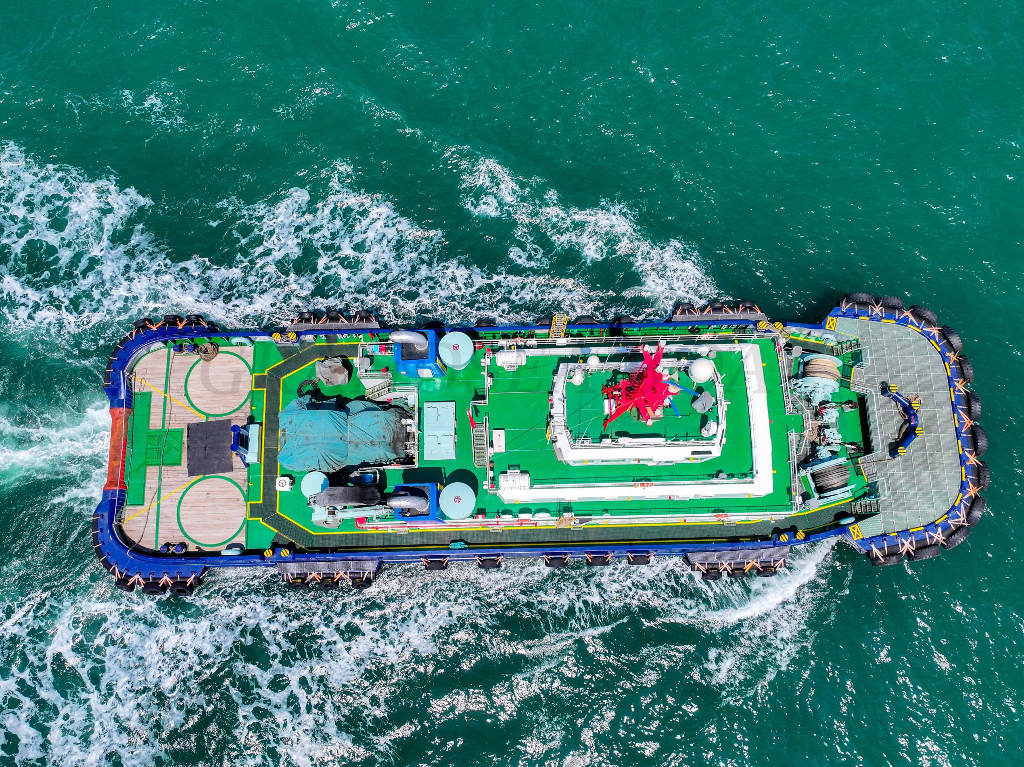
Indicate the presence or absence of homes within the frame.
No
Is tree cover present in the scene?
No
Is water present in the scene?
Yes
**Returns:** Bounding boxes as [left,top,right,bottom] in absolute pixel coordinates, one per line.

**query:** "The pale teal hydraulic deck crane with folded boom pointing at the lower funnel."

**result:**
[307,495,390,527]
